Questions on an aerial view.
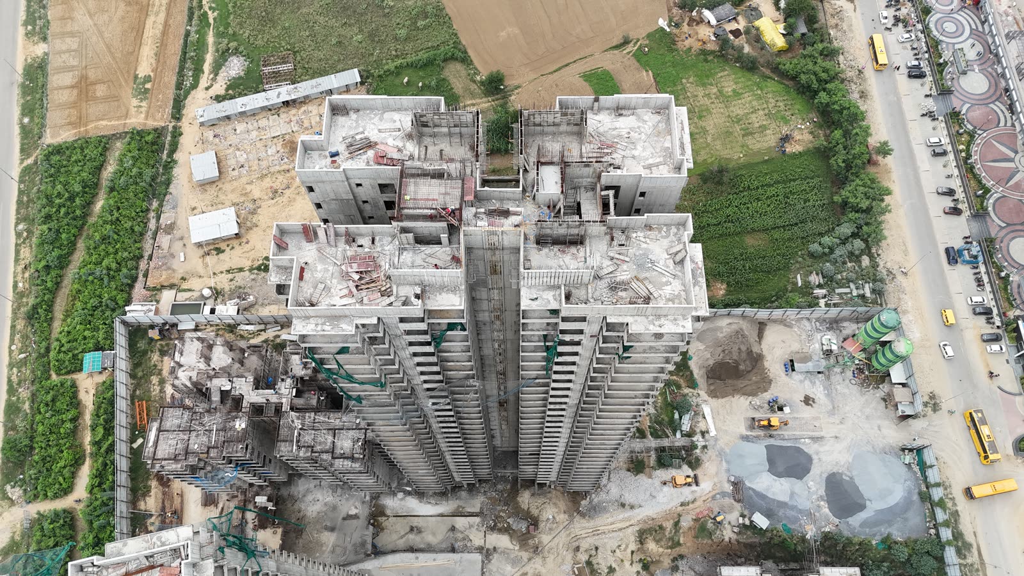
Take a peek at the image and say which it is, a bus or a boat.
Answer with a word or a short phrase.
bus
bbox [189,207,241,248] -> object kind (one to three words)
shed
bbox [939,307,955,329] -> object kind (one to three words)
vehicle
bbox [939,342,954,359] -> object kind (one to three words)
car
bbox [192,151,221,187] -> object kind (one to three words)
shed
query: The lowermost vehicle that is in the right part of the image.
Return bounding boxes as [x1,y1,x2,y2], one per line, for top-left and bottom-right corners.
[707,511,729,527]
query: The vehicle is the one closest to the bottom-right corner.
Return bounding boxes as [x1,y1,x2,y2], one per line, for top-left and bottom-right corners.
[958,476,1024,503]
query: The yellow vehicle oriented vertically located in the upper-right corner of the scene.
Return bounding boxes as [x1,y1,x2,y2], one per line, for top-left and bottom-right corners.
[869,36,889,68]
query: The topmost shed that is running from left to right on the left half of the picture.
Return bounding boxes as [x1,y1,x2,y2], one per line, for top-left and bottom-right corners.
[197,69,362,130]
